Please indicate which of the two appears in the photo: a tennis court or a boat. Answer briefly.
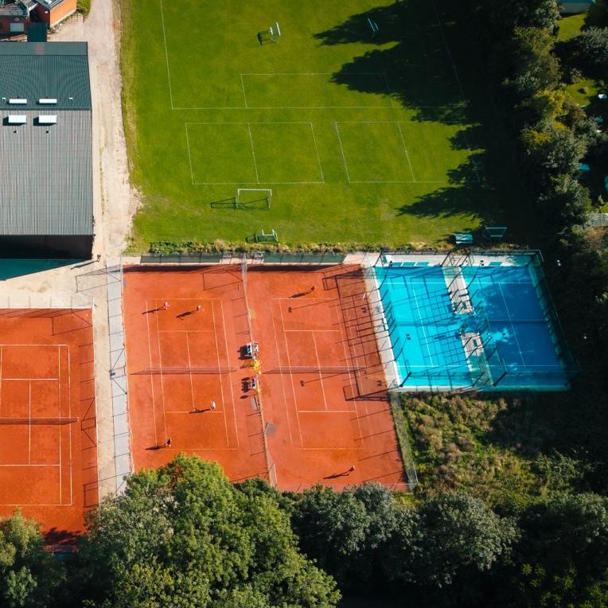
tennis court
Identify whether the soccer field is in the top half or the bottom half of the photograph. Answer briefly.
top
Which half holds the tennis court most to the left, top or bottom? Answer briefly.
bottom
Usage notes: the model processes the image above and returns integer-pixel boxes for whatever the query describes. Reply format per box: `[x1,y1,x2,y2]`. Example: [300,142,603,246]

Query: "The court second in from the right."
[374,251,486,387]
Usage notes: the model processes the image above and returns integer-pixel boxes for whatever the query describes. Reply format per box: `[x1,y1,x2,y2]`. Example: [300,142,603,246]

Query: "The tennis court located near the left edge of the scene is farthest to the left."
[0,309,98,556]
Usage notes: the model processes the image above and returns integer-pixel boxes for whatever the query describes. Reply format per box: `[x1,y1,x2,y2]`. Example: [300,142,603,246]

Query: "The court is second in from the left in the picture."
[124,265,271,486]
